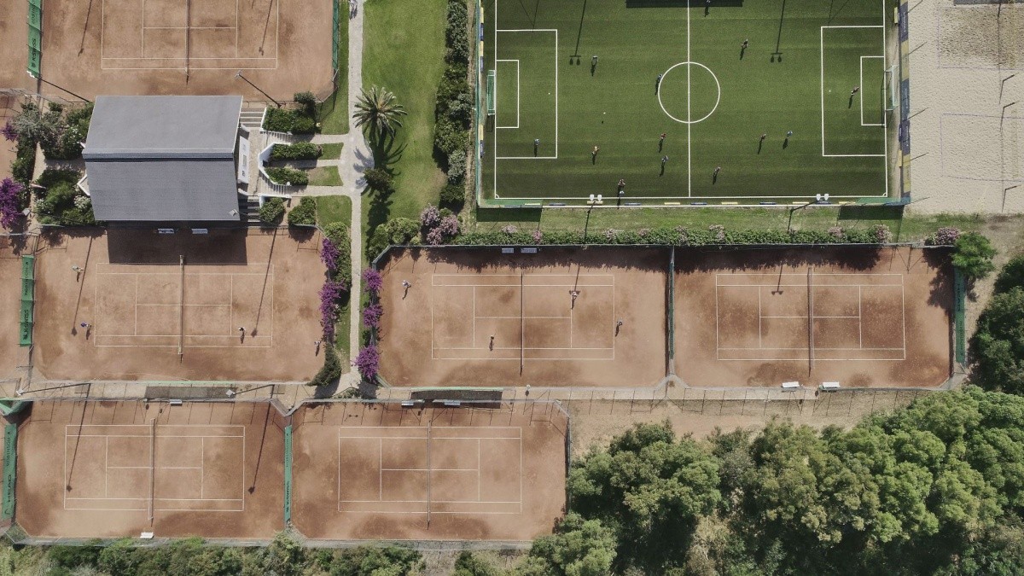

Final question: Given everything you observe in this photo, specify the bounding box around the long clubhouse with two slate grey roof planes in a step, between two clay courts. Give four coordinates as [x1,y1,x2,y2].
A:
[82,94,252,221]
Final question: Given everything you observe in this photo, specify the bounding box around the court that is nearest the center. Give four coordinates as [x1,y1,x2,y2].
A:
[375,249,669,388]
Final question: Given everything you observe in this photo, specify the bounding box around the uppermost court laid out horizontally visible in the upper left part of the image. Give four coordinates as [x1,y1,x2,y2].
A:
[40,0,339,100]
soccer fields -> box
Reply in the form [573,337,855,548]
[477,0,899,205]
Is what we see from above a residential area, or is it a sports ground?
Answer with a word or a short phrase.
sports ground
